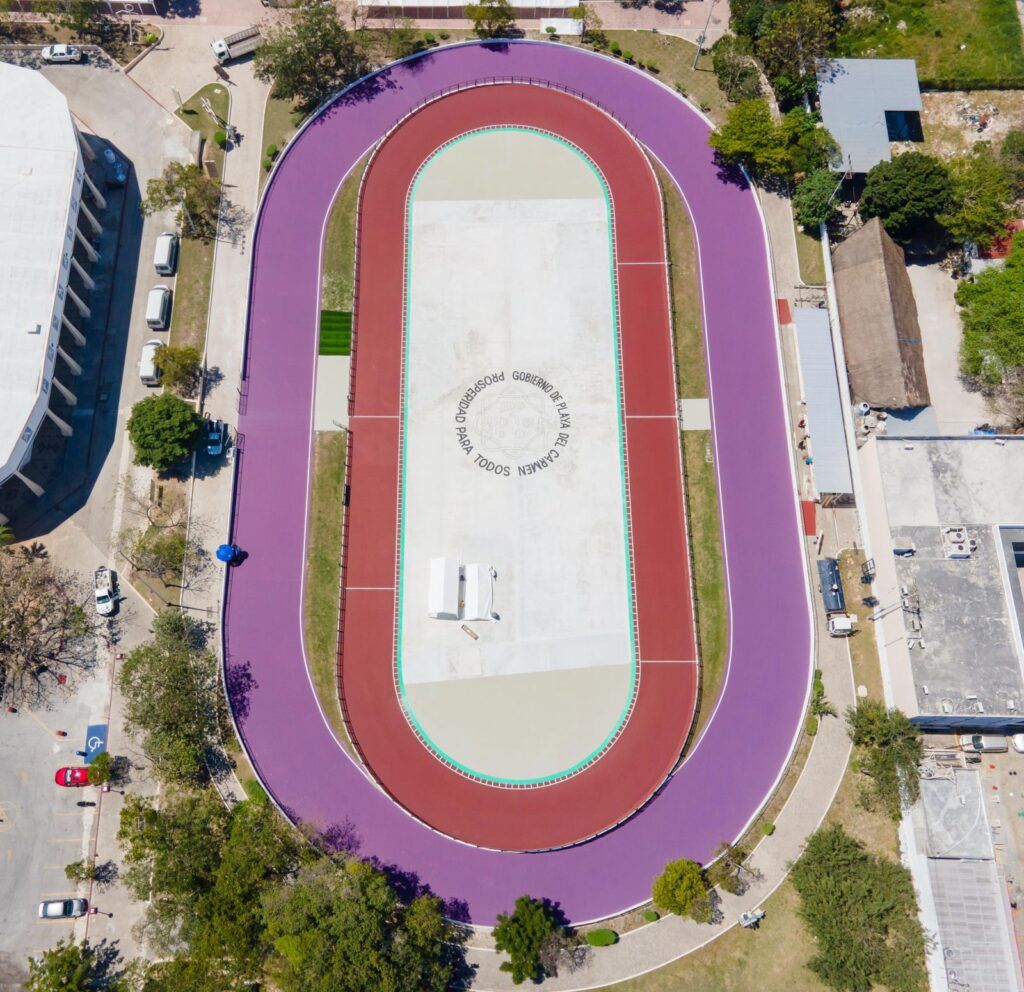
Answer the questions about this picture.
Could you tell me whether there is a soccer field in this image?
No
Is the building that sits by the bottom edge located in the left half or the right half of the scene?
right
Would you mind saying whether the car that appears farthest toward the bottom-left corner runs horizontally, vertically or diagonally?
horizontally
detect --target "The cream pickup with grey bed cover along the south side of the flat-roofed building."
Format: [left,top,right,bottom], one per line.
[959,732,1014,755]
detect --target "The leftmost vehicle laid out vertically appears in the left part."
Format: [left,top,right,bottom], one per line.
[89,565,115,617]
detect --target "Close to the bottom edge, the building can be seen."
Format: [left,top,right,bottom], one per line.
[904,768,1024,992]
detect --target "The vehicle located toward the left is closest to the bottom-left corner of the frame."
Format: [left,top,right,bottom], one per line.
[33,897,86,923]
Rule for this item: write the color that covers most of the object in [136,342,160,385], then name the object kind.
white vehicle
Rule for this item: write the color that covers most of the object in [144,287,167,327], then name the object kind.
white vehicle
